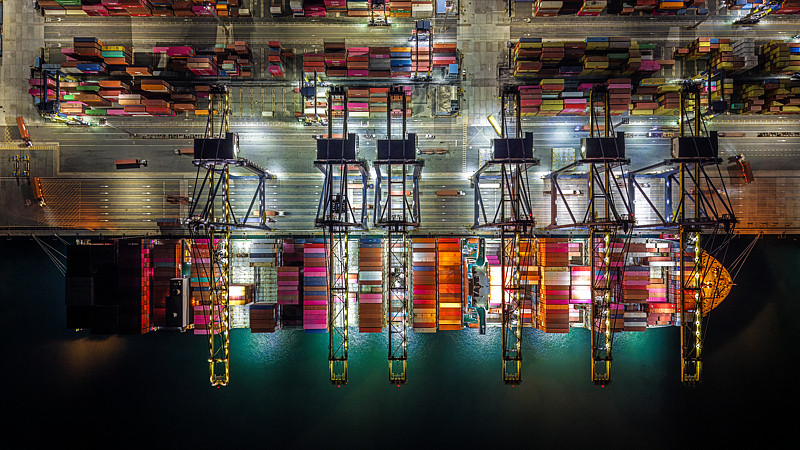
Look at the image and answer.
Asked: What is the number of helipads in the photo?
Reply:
0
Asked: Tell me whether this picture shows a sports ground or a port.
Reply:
port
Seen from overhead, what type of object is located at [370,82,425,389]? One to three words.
container crane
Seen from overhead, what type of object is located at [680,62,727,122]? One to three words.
crane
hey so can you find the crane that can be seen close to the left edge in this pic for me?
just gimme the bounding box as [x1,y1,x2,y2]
[40,62,89,122]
